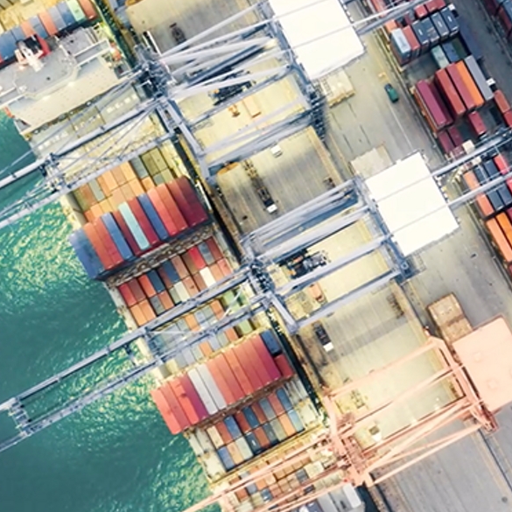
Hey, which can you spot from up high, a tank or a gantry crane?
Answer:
gantry crane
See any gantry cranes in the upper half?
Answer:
Yes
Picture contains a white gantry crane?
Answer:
Yes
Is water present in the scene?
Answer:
Yes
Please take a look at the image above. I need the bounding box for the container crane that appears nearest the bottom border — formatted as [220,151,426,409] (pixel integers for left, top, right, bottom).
[164,309,512,512]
